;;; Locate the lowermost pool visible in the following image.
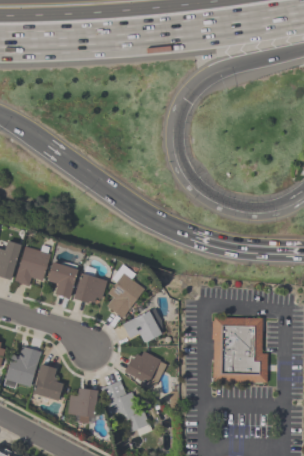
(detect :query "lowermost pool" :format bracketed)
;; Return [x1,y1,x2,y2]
[94,415,108,438]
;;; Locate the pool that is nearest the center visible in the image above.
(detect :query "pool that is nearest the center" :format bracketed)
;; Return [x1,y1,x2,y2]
[90,259,108,277]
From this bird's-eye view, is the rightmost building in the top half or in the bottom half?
bottom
